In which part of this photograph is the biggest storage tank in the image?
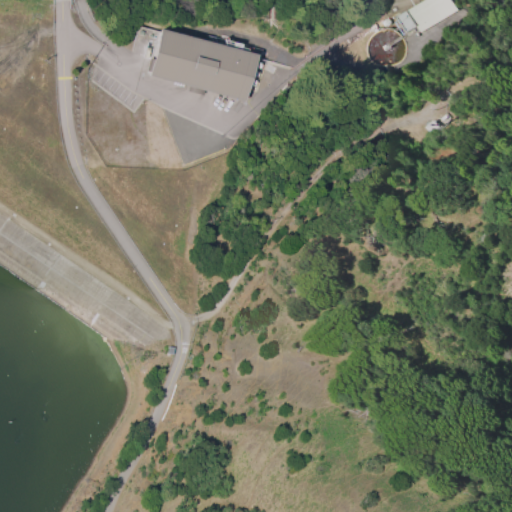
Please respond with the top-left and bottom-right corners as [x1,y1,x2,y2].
[368,27,407,66]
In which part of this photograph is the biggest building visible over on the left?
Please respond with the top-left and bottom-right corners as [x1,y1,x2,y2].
[149,30,260,98]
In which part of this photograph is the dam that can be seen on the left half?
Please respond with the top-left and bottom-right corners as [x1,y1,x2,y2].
[0,202,177,346]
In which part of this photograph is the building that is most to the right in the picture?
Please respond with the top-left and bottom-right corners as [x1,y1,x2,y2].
[408,0,458,32]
